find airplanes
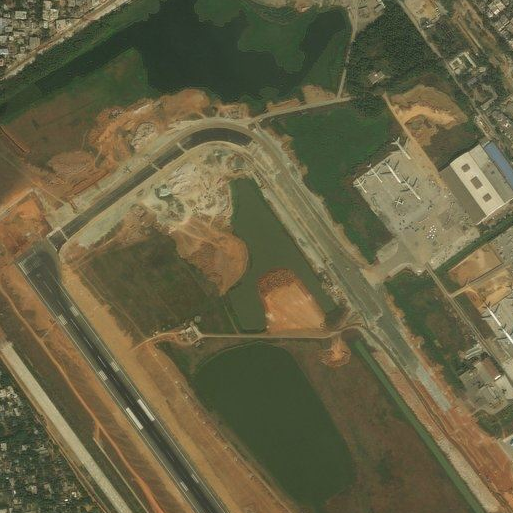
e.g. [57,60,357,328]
[498,326,513,348]
[382,159,401,182]
[482,303,502,327]
[392,138,411,159]
[368,165,383,182]
[399,173,421,199]
[354,176,368,193]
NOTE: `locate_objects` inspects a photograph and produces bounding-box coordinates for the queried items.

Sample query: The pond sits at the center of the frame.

[225,178,336,333]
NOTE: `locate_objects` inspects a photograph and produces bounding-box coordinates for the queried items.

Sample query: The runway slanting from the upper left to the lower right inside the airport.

[15,240,231,513]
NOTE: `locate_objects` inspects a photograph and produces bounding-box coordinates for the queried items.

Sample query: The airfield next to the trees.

[2,128,513,513]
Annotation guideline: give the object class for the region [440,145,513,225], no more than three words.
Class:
hangar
